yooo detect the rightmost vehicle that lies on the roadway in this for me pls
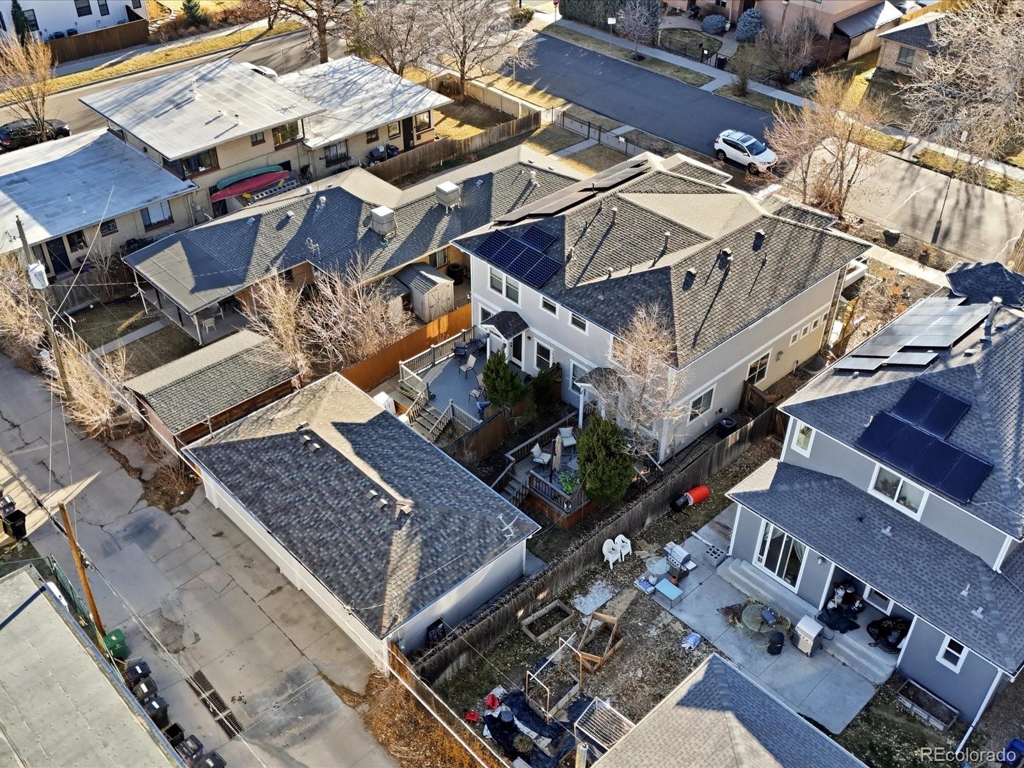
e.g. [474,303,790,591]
[713,131,784,175]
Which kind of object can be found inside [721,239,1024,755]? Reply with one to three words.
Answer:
house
